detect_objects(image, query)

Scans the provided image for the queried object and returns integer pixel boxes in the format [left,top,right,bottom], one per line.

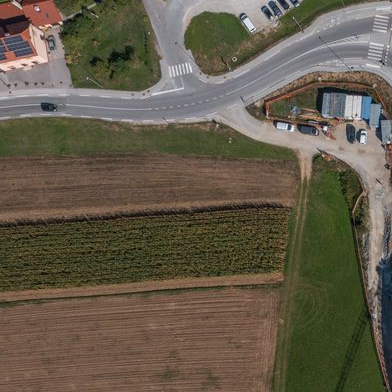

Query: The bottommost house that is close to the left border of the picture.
[0,25,48,73]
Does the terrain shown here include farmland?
Yes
